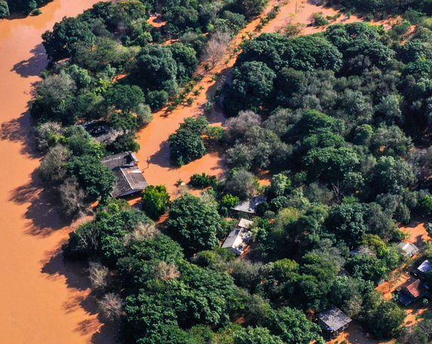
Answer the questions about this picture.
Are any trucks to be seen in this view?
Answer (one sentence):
No, no truck is visible in the view.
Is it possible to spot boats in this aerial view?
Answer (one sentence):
No, there isn't any boat down there.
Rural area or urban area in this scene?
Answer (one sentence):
The land in this view is best described as rural.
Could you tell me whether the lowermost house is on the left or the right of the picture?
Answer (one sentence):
The lowermost house sits on the right side.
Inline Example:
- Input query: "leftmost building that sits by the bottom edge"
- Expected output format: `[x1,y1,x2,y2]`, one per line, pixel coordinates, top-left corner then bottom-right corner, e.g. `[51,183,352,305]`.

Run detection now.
[318,307,350,337]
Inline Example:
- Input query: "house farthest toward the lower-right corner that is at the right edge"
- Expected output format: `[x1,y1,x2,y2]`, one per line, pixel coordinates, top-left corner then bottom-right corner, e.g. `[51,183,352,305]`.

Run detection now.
[393,280,431,310]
